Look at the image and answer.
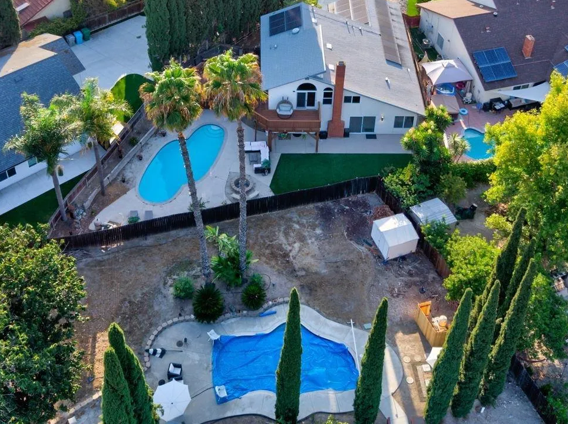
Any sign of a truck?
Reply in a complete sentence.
No, the frame has no truck in it.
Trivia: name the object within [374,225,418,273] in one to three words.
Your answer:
shed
